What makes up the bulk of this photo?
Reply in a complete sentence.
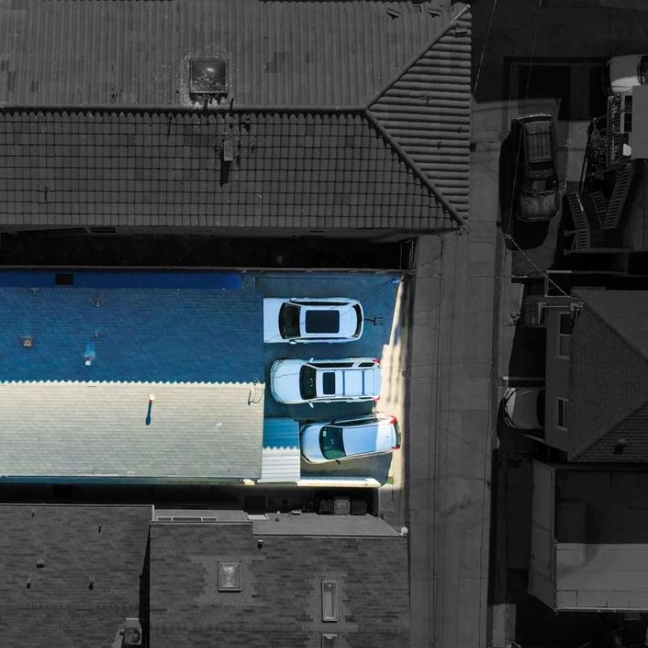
The scene is dominated by buildings.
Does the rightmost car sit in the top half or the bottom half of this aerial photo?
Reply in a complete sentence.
It is in the top half that the rightmost car appears.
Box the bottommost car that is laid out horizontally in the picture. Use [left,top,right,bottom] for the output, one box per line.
[300,411,404,465]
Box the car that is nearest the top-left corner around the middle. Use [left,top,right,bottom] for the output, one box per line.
[262,293,365,346]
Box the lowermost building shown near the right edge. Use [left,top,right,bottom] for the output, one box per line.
[529,463,648,611]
